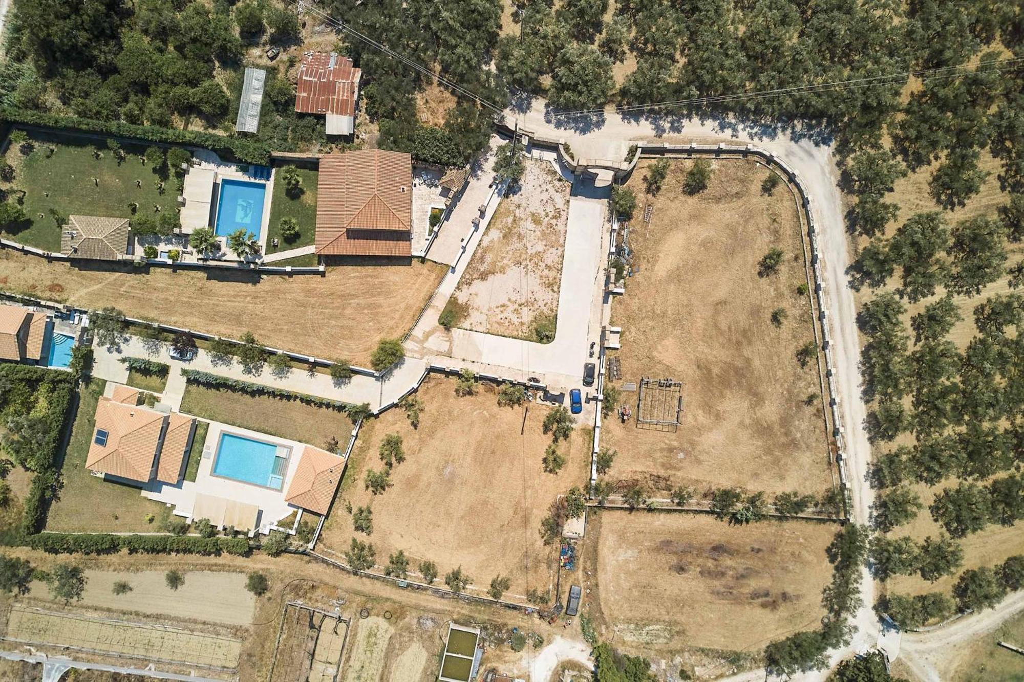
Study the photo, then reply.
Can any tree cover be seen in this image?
Yes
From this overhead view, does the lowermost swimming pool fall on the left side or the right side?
left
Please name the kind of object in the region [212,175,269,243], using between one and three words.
swimming pool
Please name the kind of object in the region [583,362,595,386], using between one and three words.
vehicle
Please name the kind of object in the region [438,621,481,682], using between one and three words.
water tank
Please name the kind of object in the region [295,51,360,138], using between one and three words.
barn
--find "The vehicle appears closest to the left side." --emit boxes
[169,348,196,362]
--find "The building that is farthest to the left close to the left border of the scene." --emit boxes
[0,306,53,361]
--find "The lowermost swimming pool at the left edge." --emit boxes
[45,331,77,370]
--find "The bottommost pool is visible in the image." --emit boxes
[209,430,291,493]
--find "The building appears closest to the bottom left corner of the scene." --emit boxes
[85,383,193,484]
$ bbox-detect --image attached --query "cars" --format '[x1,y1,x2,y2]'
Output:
[570,389,583,413]
[169,348,196,362]
[583,362,595,386]
[566,585,581,615]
